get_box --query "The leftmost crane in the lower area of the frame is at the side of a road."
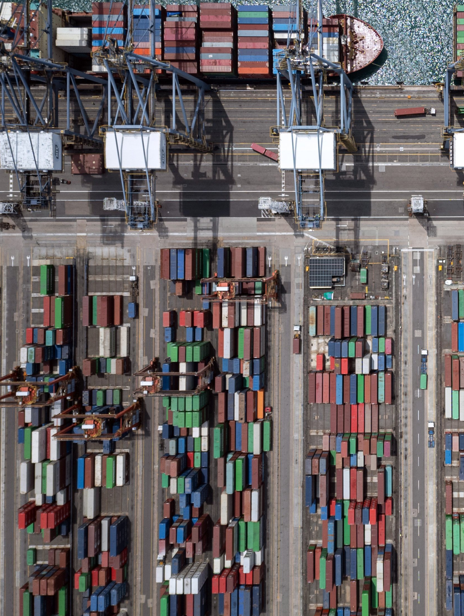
[0,369,71,409]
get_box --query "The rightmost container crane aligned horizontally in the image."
[200,270,278,304]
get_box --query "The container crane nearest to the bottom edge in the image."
[49,400,137,442]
